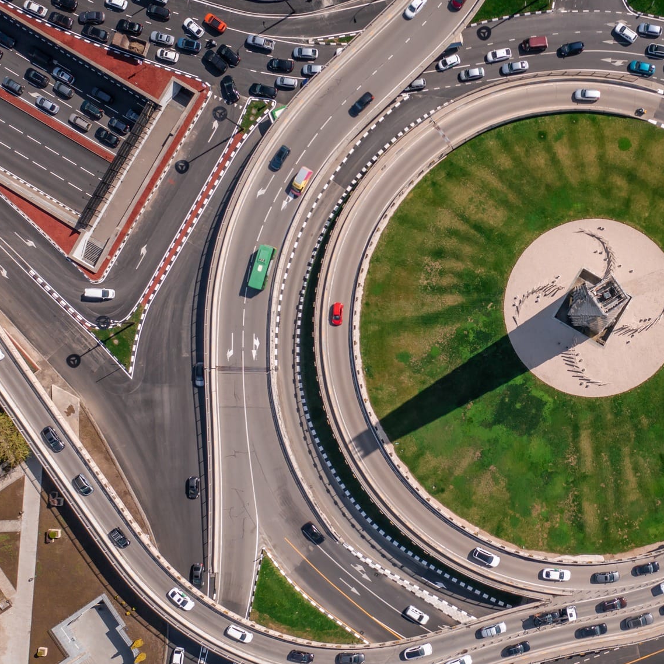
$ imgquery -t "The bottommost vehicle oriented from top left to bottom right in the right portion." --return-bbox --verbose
[405,606,428,624]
